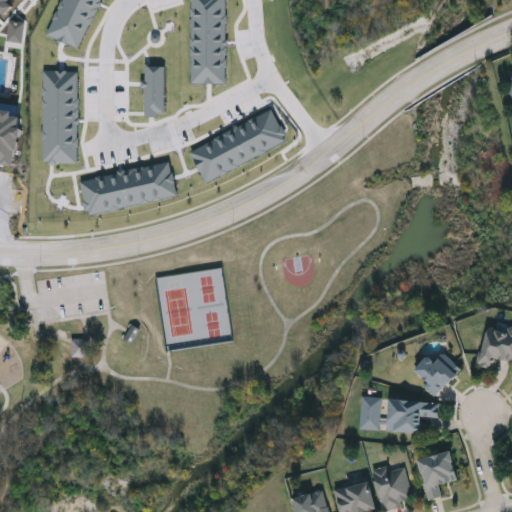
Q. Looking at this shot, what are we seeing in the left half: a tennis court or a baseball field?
tennis court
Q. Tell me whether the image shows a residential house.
Yes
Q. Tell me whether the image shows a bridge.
Yes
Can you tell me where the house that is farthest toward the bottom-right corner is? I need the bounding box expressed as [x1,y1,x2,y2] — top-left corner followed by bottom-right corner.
[418,451,458,502]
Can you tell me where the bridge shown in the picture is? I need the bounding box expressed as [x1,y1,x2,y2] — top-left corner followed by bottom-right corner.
[404,14,496,112]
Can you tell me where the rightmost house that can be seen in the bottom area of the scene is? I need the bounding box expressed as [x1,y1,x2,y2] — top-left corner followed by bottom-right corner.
[476,325,512,368]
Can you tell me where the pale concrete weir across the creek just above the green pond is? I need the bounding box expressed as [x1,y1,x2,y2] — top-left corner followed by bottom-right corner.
[412,172,460,188]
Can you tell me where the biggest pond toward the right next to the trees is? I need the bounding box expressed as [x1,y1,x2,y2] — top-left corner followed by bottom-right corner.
[370,188,448,286]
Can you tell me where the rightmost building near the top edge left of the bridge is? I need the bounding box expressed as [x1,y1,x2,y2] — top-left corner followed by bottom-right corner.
[190,0,227,86]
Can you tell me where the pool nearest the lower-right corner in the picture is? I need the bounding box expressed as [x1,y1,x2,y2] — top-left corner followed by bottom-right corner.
[420,342,443,356]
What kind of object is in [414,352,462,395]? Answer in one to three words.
house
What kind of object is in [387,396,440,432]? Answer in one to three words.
house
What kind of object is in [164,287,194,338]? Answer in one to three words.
tennis court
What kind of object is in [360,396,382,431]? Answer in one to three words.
building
